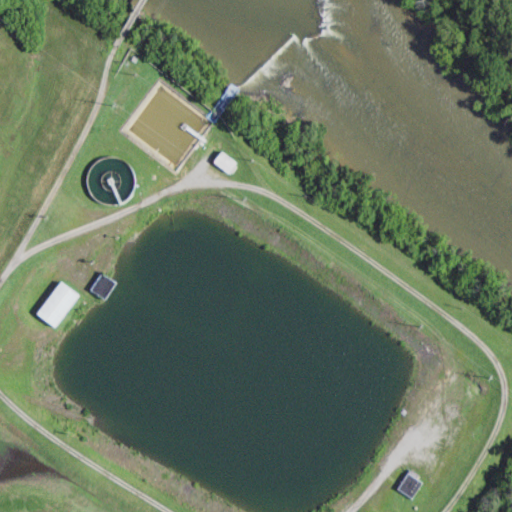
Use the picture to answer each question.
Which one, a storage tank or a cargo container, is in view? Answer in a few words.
storage tank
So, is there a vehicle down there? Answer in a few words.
No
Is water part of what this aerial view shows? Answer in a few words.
Yes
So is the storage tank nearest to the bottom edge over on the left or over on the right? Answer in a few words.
left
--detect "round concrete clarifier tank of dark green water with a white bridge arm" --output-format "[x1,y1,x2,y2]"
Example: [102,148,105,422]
[86,156,140,206]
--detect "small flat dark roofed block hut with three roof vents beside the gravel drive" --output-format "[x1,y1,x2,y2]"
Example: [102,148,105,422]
[398,469,424,500]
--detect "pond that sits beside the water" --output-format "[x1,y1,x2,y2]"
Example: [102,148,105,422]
[54,210,414,512]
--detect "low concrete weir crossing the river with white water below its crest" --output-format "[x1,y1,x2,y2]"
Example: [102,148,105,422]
[239,0,328,92]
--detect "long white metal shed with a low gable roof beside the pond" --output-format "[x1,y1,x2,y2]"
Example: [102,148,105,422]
[36,282,80,328]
